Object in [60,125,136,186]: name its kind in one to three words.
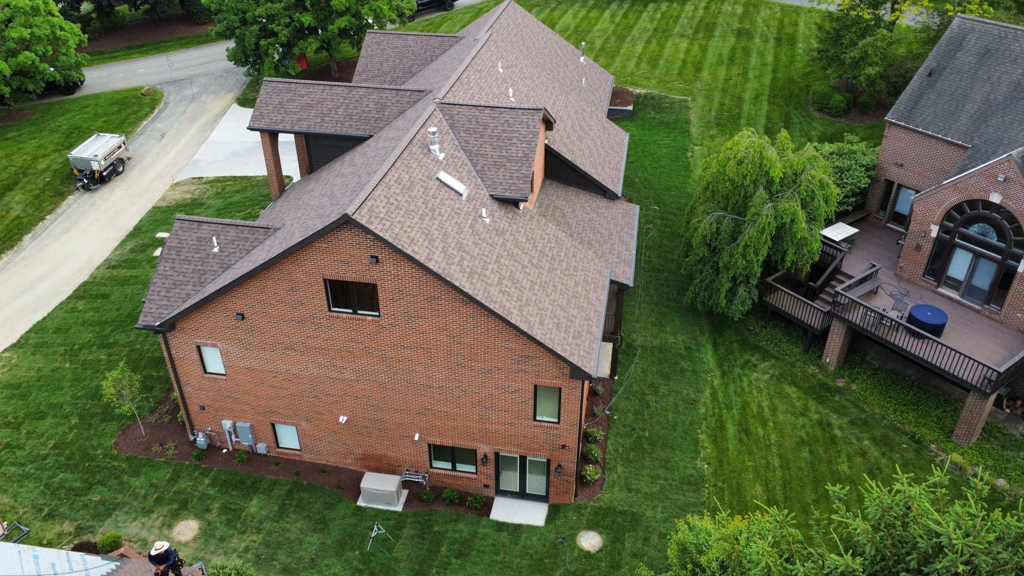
trailer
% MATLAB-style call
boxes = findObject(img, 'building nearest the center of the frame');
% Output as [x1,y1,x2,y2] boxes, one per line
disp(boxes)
[130,0,644,504]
